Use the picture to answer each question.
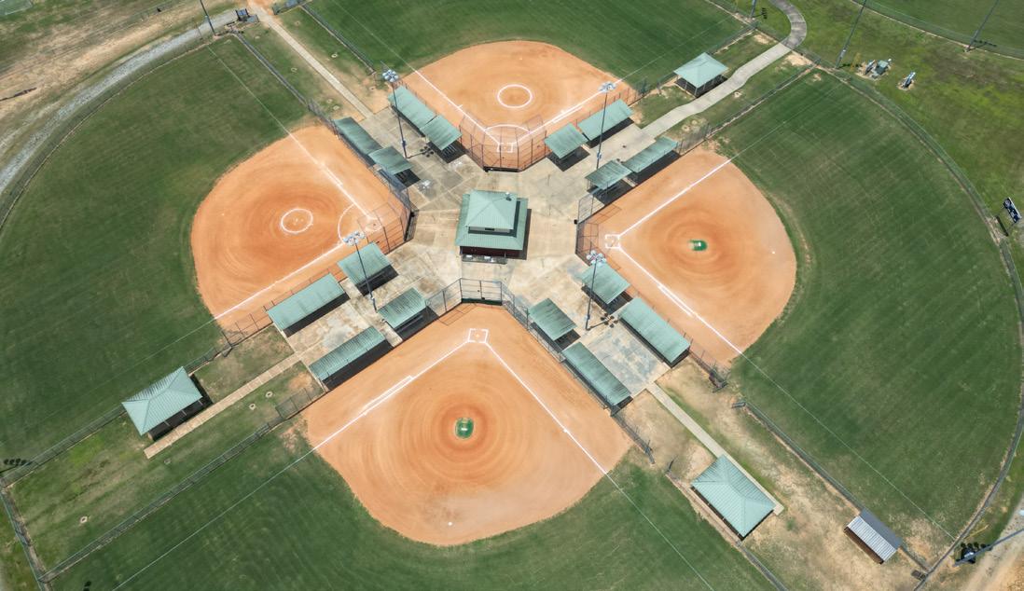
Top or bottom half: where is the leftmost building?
bottom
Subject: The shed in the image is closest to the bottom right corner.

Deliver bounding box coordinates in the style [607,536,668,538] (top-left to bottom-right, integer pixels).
[840,507,903,564]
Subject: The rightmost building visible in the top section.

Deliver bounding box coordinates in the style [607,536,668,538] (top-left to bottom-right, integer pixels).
[673,53,729,97]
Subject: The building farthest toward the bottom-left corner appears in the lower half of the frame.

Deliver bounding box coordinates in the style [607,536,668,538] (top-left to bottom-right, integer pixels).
[122,366,206,440]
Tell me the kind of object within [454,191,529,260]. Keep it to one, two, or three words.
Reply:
building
